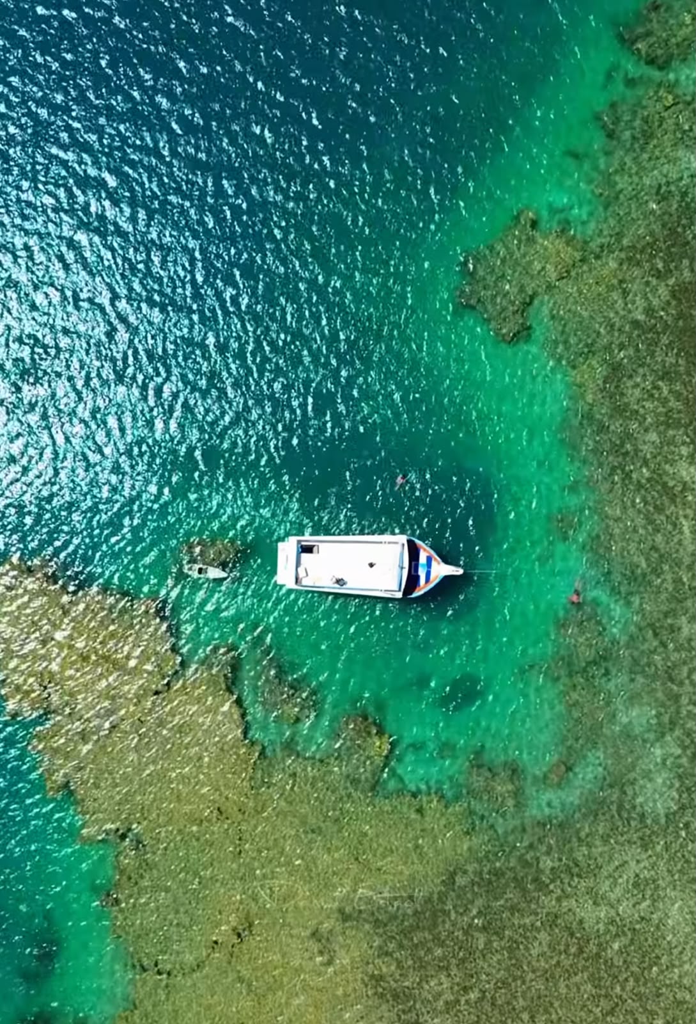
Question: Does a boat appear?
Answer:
Yes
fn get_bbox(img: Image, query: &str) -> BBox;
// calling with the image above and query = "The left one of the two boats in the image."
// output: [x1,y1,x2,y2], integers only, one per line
[183,564,229,579]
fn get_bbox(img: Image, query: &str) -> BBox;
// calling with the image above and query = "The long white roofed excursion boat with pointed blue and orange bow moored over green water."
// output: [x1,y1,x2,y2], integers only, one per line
[277,535,464,598]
